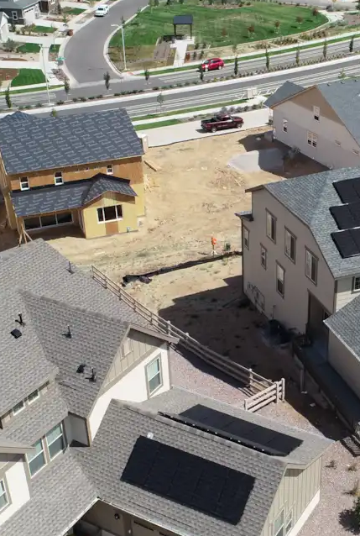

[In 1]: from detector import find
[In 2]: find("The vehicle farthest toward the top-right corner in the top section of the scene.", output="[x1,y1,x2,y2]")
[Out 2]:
[200,57,227,71]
